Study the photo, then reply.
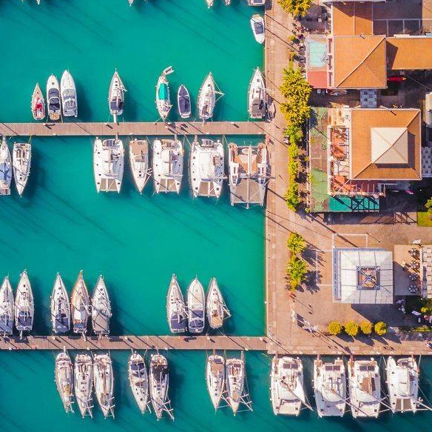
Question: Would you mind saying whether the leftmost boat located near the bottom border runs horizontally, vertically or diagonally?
vertically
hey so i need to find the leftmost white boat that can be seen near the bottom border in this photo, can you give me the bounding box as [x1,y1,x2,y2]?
[51,347,75,414]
